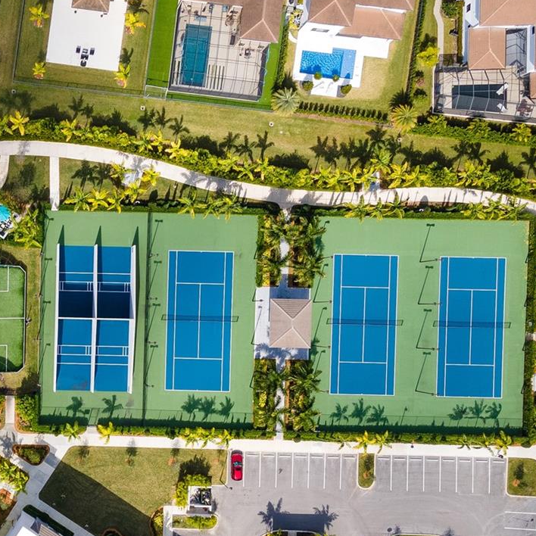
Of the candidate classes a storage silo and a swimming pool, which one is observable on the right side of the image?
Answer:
swimming pool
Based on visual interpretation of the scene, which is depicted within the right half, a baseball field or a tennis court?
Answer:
tennis court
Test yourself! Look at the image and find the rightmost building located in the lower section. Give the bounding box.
[267,298,312,349]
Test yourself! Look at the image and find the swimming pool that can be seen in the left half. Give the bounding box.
[181,24,212,86]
